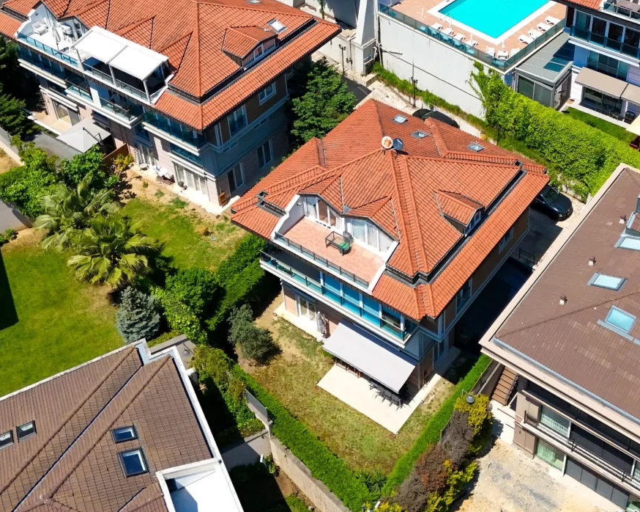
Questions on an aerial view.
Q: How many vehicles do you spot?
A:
two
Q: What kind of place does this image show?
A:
residential area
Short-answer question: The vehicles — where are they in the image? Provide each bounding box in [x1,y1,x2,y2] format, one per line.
[410,104,464,136]
[529,195,579,236]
